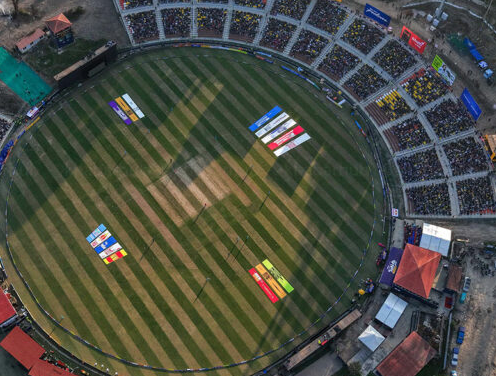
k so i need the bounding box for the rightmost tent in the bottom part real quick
[420,224,452,262]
